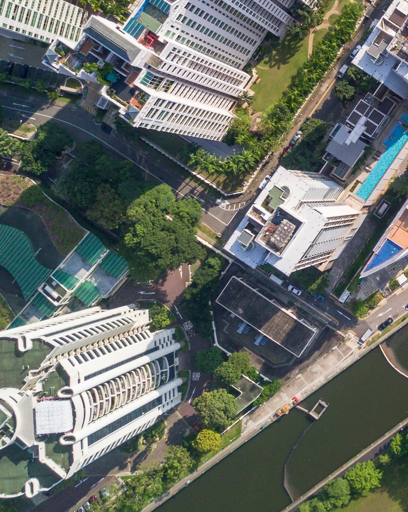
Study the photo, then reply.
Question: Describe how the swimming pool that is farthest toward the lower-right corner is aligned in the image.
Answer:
diagonally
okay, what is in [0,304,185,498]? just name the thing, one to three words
building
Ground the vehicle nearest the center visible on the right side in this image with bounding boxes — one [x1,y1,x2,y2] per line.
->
[263,270,285,285]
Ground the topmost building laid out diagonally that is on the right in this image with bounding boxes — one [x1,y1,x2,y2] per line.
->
[327,94,400,180]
